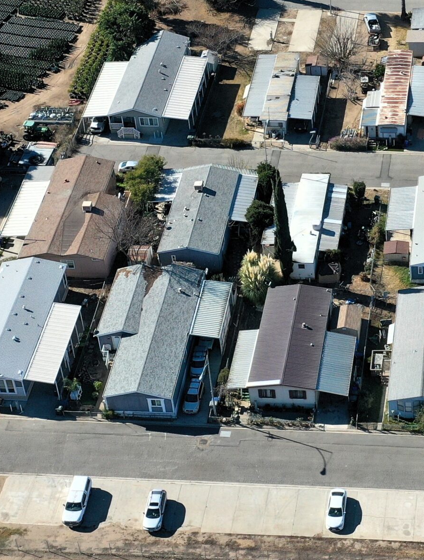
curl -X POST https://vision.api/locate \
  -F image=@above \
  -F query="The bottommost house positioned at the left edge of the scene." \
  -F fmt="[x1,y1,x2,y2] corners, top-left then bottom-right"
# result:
[0,257,83,399]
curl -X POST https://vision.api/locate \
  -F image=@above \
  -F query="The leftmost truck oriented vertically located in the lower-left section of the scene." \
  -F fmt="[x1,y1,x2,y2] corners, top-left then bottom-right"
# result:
[63,472,92,524]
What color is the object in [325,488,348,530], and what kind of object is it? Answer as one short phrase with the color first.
white car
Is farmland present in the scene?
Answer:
No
